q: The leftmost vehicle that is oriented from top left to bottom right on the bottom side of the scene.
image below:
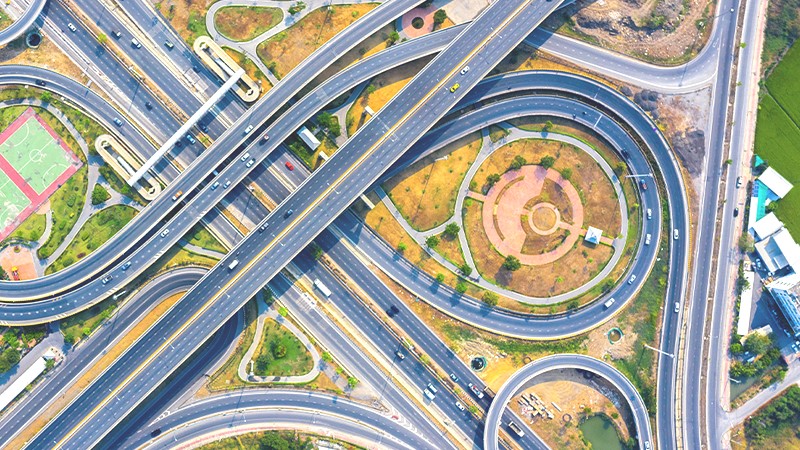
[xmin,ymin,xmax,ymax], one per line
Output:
[314,281,332,298]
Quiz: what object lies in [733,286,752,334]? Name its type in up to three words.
shed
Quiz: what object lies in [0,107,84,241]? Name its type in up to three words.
sports court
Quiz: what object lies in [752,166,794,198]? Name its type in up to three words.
building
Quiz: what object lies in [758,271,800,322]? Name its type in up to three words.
building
